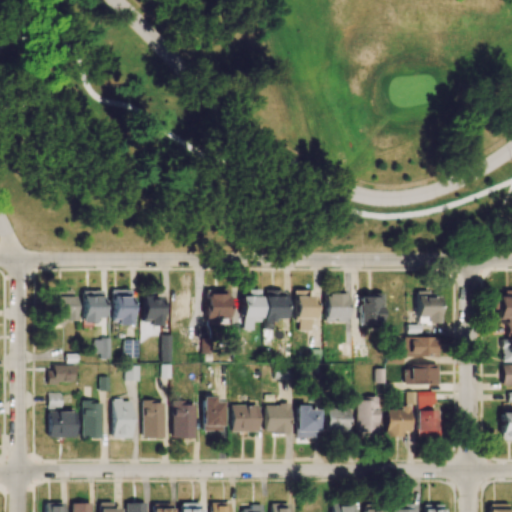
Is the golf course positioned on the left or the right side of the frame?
right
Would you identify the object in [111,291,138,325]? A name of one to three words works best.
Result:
house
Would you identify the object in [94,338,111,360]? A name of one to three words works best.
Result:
building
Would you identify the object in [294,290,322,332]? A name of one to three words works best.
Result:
house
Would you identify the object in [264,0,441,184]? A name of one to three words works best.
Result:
golf course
